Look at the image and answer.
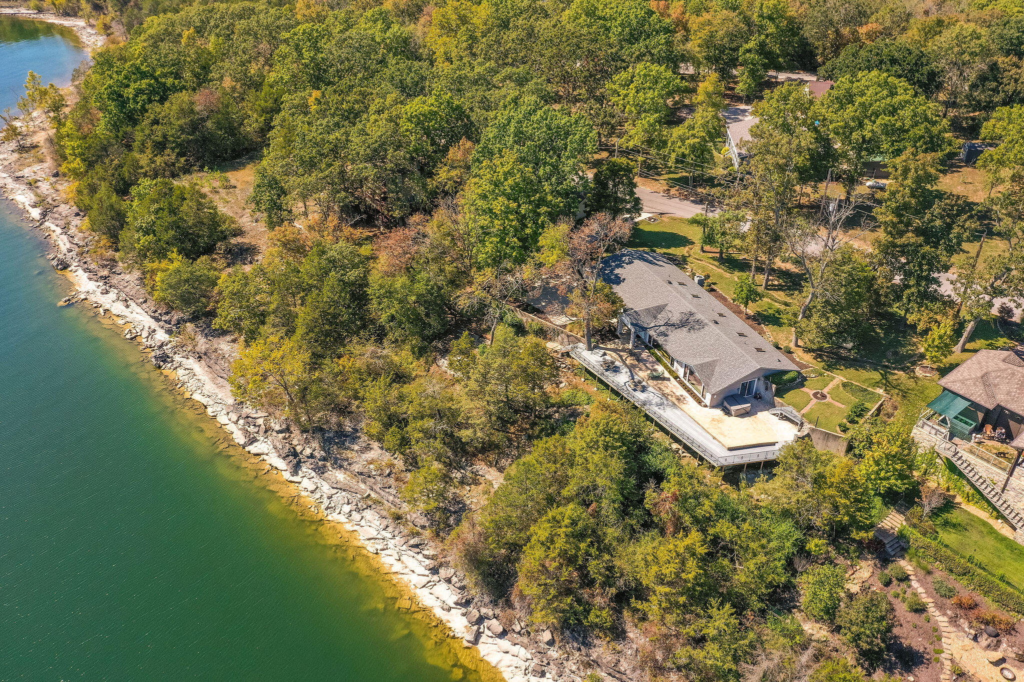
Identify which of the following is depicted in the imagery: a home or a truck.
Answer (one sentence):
Looking from above, you can make out a home.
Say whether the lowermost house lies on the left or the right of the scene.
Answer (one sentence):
The lowermost house sits on the right side.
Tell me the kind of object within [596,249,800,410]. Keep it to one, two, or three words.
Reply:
house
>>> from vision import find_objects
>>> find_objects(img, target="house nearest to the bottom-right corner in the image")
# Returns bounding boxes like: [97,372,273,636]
[937,349,1024,472]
